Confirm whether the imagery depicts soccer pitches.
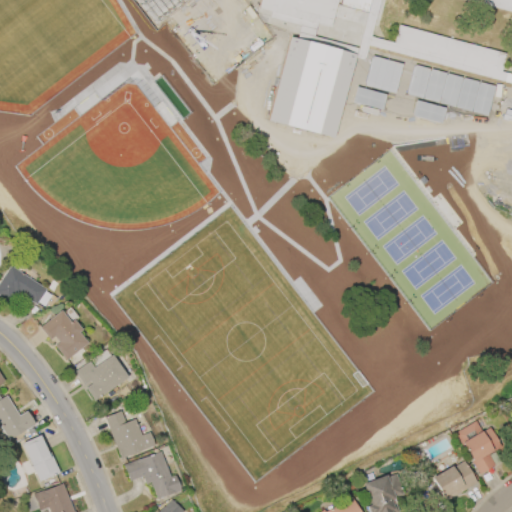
Yes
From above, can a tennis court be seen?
Yes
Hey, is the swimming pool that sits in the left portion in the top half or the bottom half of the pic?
bottom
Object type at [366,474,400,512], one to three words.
house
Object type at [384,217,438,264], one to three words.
tennis court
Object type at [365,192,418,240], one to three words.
tennis court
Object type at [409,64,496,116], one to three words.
building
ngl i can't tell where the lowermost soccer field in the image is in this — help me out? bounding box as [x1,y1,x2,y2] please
[116,206,372,480]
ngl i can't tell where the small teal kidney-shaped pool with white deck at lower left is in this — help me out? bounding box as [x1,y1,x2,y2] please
[8,464,28,490]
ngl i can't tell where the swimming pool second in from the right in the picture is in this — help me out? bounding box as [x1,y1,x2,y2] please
[379,461,404,474]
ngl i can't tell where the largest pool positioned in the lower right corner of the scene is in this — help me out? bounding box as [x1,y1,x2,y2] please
[418,430,462,472]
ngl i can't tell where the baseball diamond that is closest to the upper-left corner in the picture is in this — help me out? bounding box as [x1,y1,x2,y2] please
[17,84,217,230]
